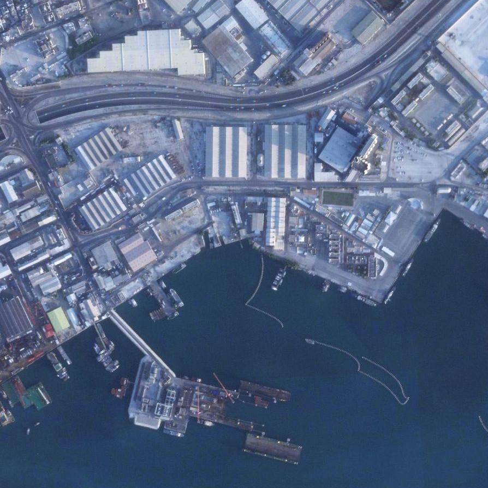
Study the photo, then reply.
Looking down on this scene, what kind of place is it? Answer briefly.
port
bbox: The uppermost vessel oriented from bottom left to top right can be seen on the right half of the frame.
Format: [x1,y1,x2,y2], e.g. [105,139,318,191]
[422,218,440,243]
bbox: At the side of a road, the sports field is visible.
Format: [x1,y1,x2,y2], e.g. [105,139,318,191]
[321,189,355,209]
